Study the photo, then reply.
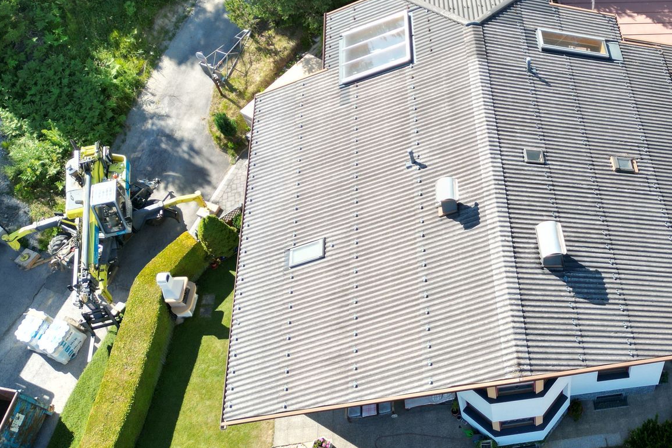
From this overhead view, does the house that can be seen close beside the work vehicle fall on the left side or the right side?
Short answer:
right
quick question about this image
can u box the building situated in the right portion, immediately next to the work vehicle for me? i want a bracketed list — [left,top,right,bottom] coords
[215,0,672,448]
